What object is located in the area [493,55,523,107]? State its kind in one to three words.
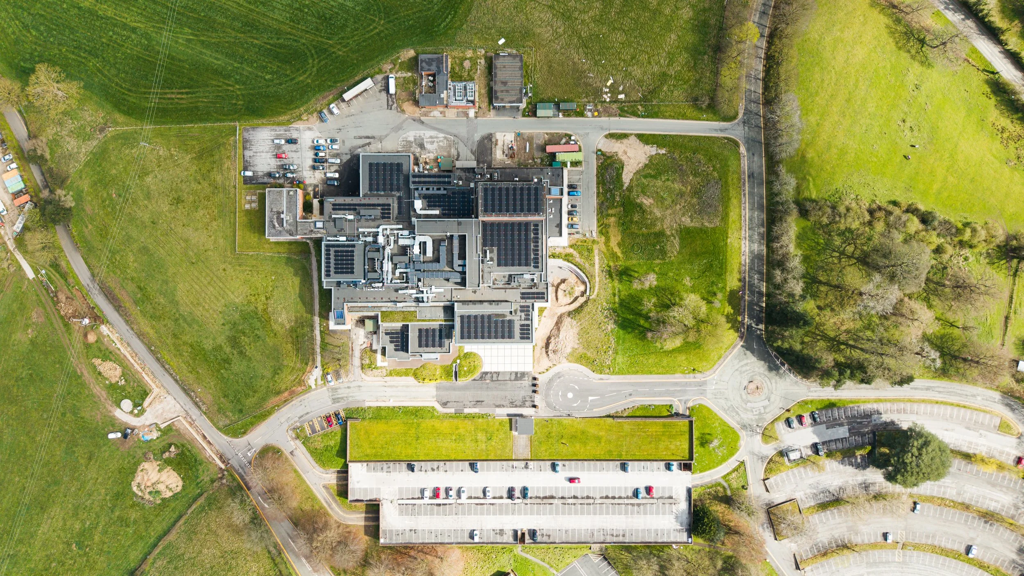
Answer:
building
